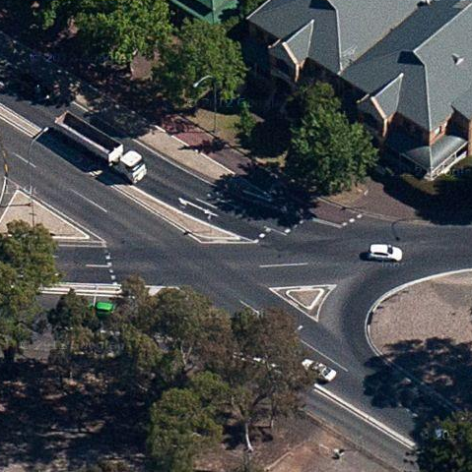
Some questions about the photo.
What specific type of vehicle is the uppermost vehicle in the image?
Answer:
truck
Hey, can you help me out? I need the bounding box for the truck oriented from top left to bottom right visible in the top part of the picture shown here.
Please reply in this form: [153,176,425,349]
[55,109,140,178]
